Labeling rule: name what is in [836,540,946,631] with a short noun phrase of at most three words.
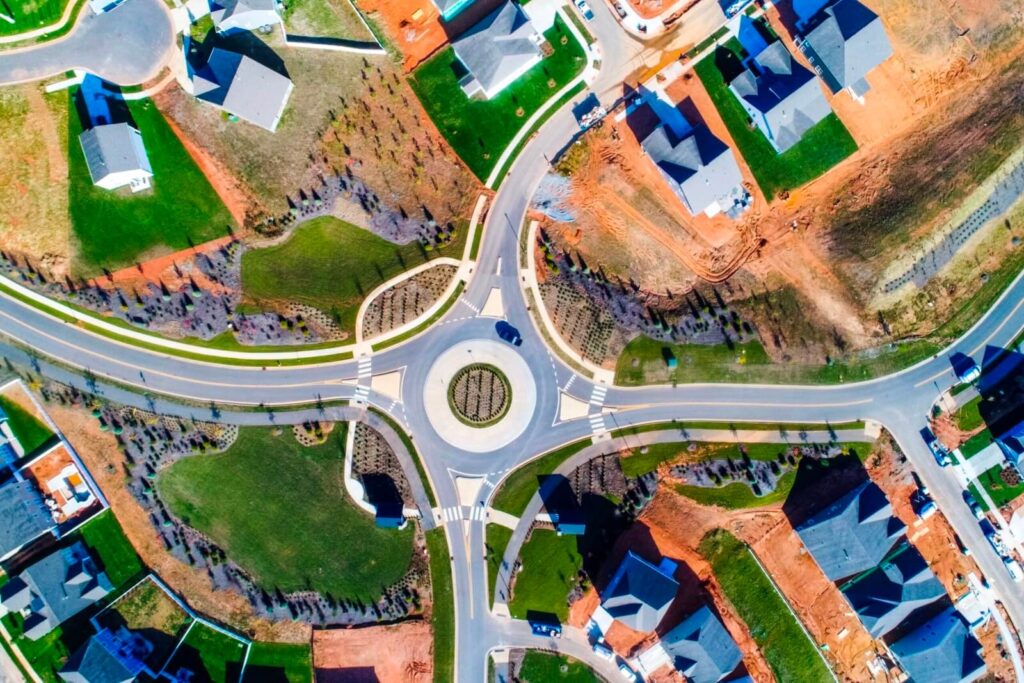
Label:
house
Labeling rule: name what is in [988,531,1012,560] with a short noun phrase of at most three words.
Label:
truck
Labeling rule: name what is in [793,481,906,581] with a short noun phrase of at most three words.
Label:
house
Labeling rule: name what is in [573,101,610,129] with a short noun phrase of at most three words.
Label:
truck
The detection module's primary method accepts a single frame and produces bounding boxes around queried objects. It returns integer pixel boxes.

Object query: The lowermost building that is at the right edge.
[889,614,987,683]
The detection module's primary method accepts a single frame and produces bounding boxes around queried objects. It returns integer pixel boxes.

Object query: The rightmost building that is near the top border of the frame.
[796,0,893,101]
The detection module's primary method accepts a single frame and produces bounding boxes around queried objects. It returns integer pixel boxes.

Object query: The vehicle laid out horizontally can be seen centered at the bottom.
[532,623,561,636]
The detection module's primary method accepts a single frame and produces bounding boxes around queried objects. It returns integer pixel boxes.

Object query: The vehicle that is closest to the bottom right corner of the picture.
[1001,558,1024,585]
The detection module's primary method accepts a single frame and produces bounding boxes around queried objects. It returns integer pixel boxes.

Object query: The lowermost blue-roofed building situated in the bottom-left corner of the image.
[58,636,141,683]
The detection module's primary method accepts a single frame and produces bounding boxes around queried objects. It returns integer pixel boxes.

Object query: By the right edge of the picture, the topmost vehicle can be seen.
[954,362,983,380]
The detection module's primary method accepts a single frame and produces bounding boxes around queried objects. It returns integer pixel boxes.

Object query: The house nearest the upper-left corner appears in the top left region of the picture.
[80,122,153,189]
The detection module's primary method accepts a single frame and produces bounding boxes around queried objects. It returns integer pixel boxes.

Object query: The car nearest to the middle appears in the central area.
[500,324,523,343]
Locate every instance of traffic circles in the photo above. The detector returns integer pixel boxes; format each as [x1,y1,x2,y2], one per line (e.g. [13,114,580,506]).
[342,257,616,535]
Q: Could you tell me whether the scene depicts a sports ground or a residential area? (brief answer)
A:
residential area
